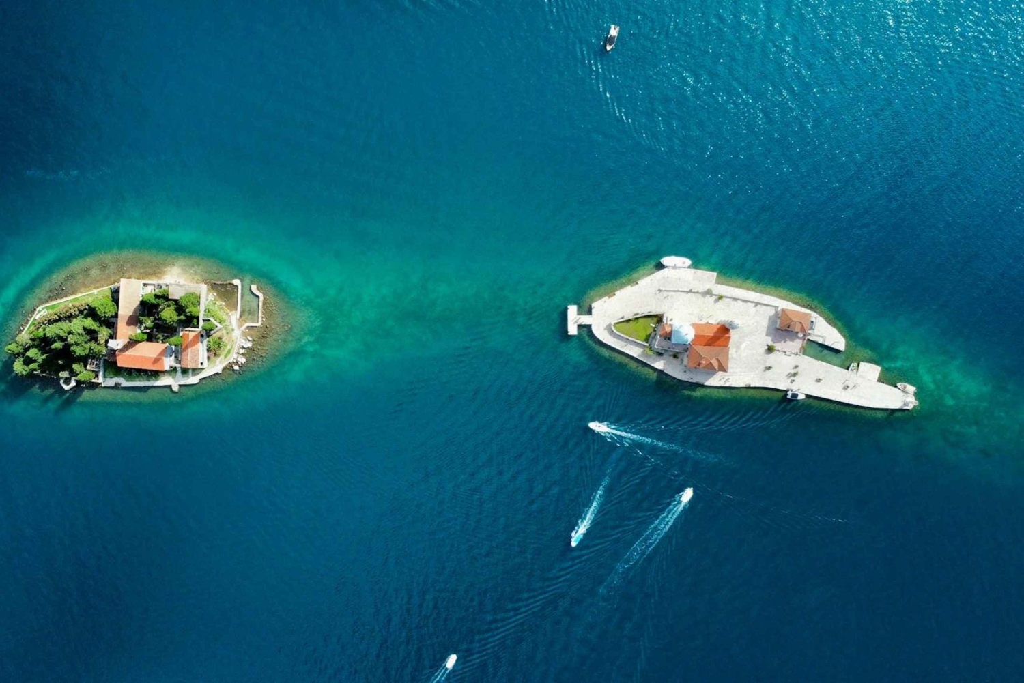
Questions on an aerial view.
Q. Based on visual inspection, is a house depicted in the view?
Yes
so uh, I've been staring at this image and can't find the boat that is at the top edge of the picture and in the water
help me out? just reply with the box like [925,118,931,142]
[606,24,618,52]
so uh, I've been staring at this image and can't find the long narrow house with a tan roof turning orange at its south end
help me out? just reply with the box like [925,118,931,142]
[115,279,145,340]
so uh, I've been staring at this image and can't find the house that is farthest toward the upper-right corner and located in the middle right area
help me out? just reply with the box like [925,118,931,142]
[777,308,812,334]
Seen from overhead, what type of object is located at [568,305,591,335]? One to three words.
pier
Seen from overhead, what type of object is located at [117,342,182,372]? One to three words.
building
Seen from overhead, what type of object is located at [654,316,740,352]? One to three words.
building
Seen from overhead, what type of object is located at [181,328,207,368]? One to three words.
house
